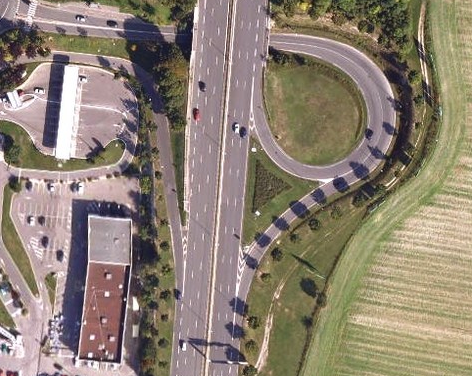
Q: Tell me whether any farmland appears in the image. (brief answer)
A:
Yes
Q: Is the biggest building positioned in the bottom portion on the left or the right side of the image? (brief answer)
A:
left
